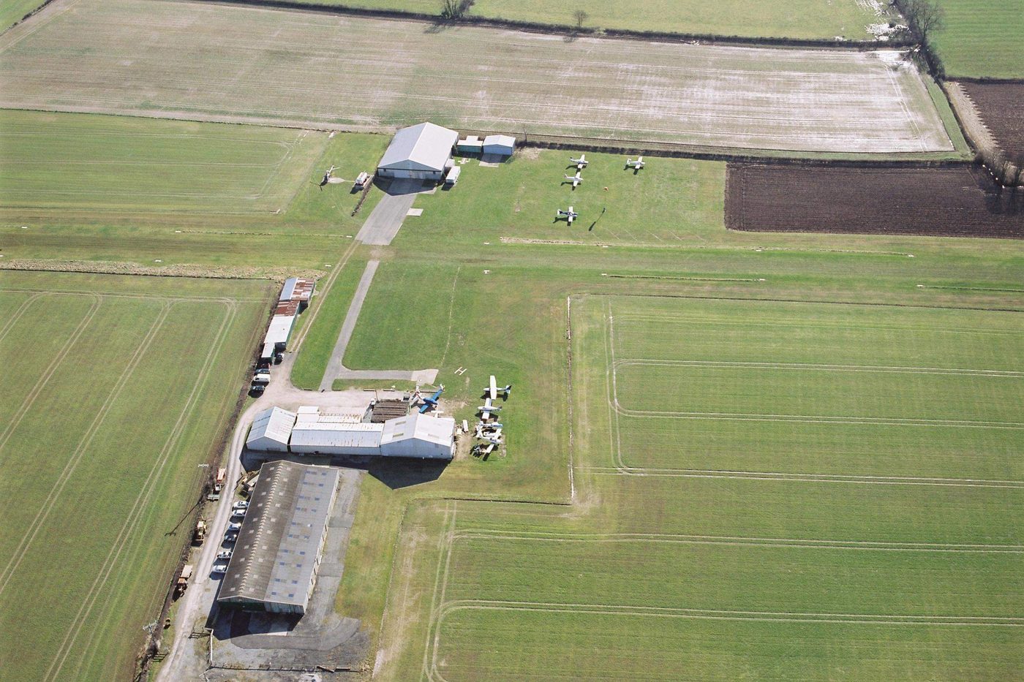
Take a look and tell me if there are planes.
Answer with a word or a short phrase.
Yes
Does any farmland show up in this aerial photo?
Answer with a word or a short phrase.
Yes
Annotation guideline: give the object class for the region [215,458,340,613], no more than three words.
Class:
shed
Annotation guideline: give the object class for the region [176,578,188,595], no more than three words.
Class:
vehicle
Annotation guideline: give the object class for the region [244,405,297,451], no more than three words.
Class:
building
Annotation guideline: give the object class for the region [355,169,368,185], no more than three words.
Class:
vehicle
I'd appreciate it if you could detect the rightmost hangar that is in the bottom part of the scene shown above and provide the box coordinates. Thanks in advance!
[379,408,456,460]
